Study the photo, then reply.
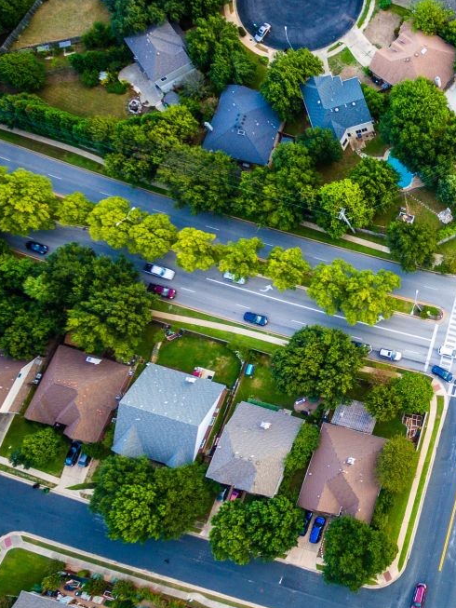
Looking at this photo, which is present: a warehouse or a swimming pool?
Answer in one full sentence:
Visible in the photo is a swimming pool.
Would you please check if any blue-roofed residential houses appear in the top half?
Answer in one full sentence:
Yes, looking in the top half, one can make out a blue-roofed residential house.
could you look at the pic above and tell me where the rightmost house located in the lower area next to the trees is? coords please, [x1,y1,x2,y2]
[298,423,390,519]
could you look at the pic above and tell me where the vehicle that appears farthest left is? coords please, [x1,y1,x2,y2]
[26,240,50,254]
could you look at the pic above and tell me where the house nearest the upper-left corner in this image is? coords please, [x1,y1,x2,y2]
[124,21,195,91]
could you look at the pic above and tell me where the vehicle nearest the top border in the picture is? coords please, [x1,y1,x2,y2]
[254,22,271,42]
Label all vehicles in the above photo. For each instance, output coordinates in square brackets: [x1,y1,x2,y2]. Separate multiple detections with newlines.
[26,240,50,254]
[144,261,173,278]
[254,22,271,42]
[299,509,314,536]
[411,584,426,608]
[76,445,94,471]
[214,482,230,507]
[227,486,242,506]
[377,347,402,361]
[243,311,269,326]
[147,282,176,298]
[429,363,454,381]
[437,346,456,360]
[63,439,83,466]
[308,516,326,543]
